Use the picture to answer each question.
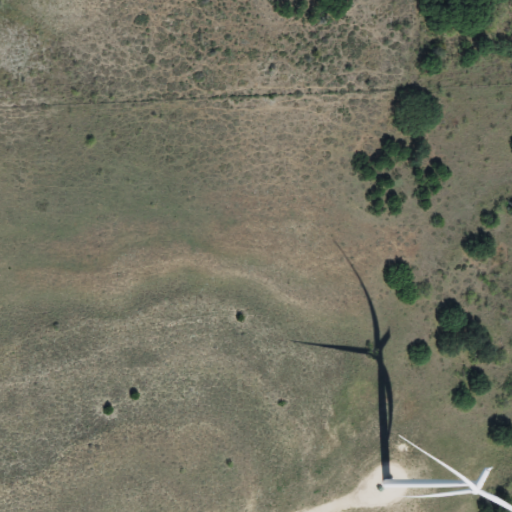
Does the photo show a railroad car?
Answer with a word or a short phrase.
No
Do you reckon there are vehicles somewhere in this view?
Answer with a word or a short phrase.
No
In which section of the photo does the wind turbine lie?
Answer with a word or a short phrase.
bottom right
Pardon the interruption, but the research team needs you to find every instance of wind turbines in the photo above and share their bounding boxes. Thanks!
[380,434,512,508]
